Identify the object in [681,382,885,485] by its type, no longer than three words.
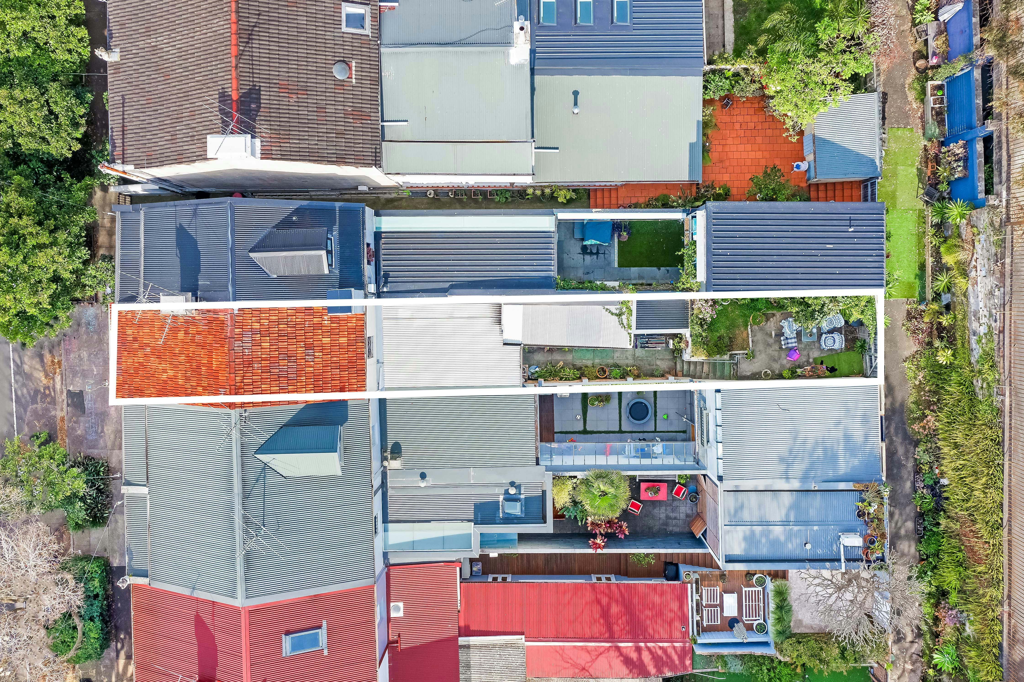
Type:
building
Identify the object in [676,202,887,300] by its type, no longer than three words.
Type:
building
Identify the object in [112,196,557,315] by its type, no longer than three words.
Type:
house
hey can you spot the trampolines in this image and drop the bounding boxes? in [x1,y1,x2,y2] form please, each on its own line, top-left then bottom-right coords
[626,399,651,423]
